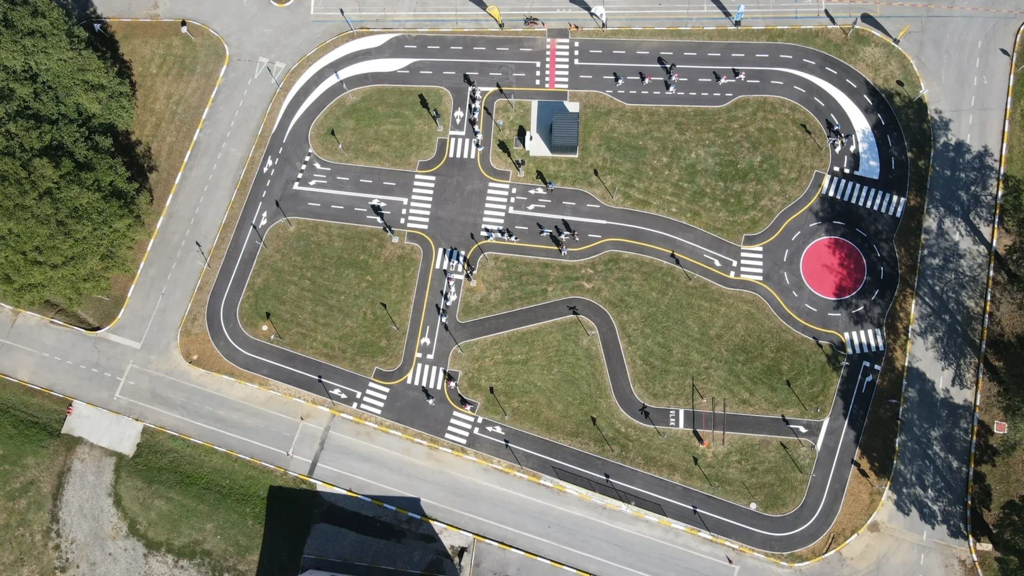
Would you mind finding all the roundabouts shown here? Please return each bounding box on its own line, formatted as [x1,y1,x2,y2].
[784,221,883,316]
